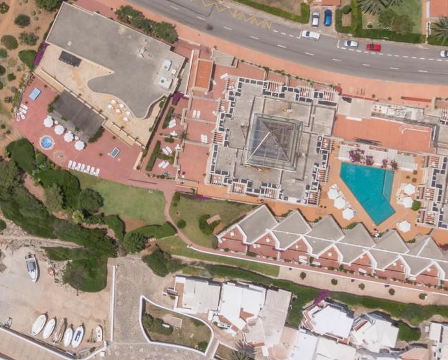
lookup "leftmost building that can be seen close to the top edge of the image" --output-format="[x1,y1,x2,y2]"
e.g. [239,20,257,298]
[47,2,185,117]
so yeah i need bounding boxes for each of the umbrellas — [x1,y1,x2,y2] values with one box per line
[75,140,85,150]
[342,209,354,219]
[55,125,65,135]
[334,198,345,209]
[399,221,410,232]
[43,117,53,127]
[327,189,339,199]
[403,196,413,208]
[404,184,414,194]
[64,132,74,142]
